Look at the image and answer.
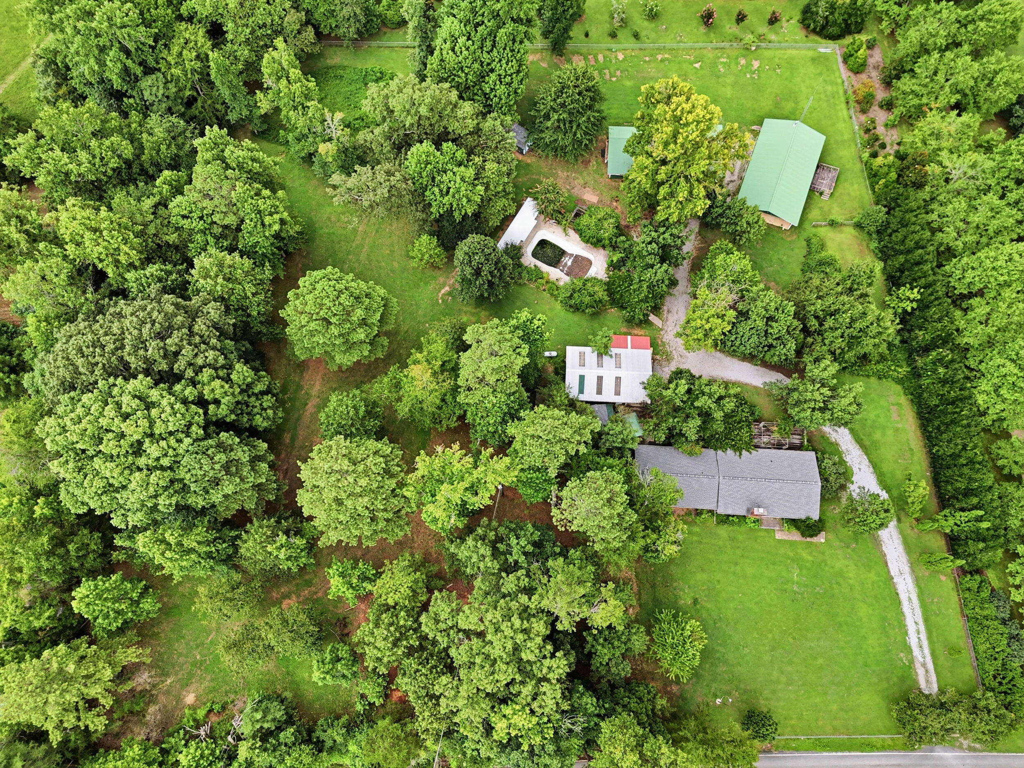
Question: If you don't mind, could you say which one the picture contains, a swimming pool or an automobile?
swimming pool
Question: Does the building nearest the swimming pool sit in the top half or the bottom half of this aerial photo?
top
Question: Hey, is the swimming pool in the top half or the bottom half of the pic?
top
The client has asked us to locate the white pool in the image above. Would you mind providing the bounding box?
[527,229,597,280]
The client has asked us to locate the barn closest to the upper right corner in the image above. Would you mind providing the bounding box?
[735,117,825,234]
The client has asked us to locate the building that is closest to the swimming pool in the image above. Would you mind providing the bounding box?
[497,197,538,256]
